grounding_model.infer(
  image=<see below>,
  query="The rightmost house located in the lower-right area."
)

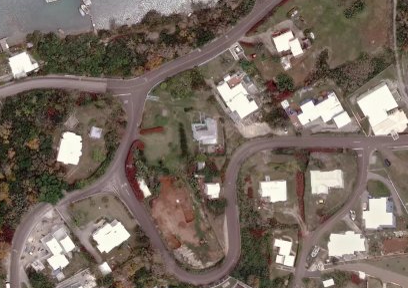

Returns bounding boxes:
[363,197,396,228]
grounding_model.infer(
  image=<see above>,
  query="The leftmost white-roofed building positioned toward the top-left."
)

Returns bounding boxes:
[8,52,38,79]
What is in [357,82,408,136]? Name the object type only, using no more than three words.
house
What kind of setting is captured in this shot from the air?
residential area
